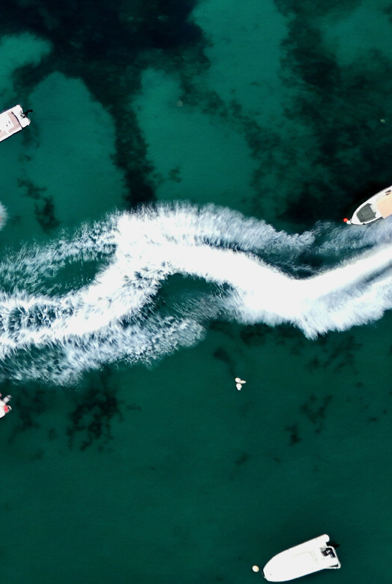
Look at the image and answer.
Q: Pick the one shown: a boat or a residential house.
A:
boat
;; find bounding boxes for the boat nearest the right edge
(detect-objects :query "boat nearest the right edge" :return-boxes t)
[350,186,392,225]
